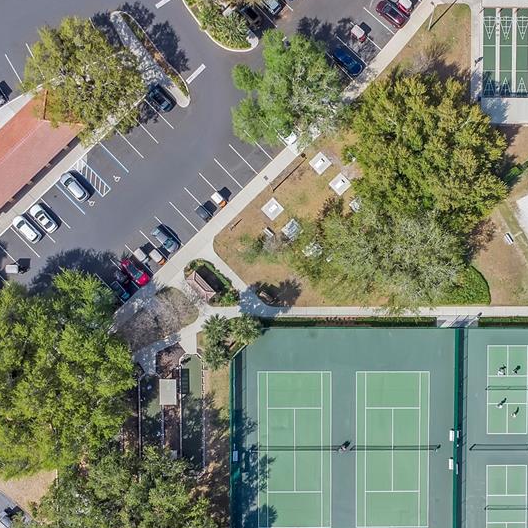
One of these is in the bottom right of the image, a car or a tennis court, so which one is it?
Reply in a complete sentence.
The feature located in the bottom right of the image is a tennis court.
